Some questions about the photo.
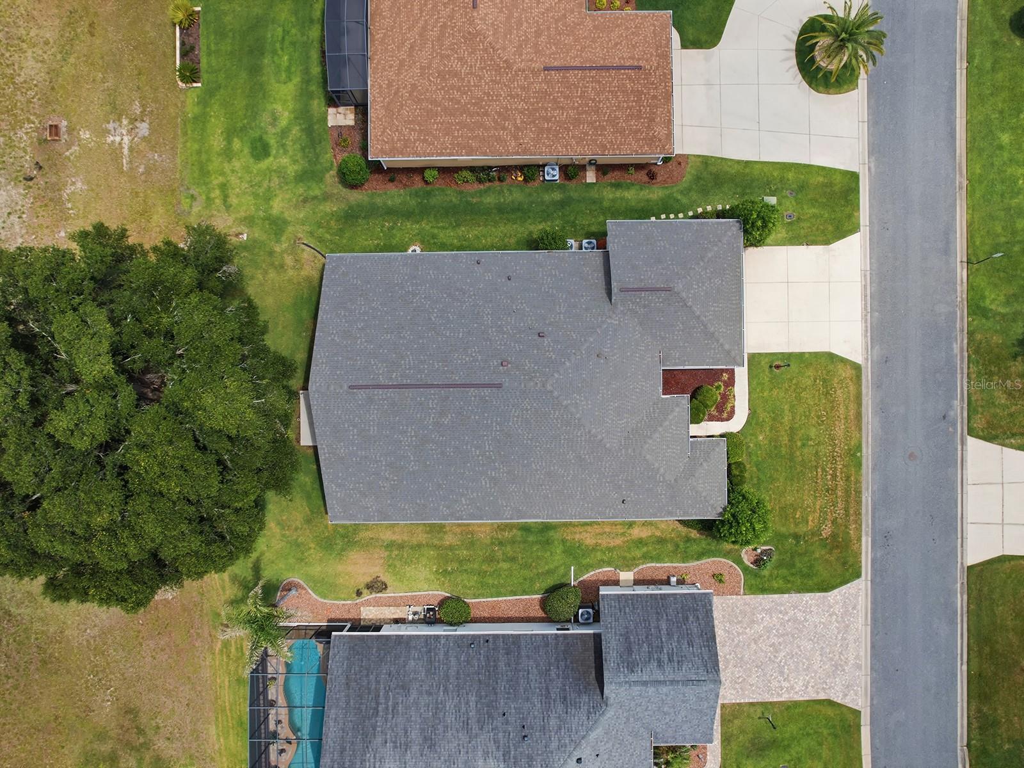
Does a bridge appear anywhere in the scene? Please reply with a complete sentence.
No, this view has no bridge in it.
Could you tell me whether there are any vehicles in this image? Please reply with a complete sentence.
No, the photo shows no vehicle.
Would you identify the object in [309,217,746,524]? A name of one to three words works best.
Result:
house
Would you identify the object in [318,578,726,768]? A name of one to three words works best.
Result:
house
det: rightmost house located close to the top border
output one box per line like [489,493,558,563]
[367,0,675,173]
